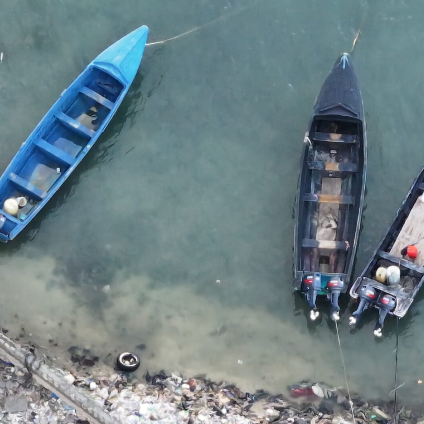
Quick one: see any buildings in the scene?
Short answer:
No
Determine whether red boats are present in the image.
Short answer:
No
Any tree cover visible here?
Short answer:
No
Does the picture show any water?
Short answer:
Yes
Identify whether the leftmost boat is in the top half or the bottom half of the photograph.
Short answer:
top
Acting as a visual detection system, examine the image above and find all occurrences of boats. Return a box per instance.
[294,52,365,328]
[347,167,424,346]
[0,23,152,252]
